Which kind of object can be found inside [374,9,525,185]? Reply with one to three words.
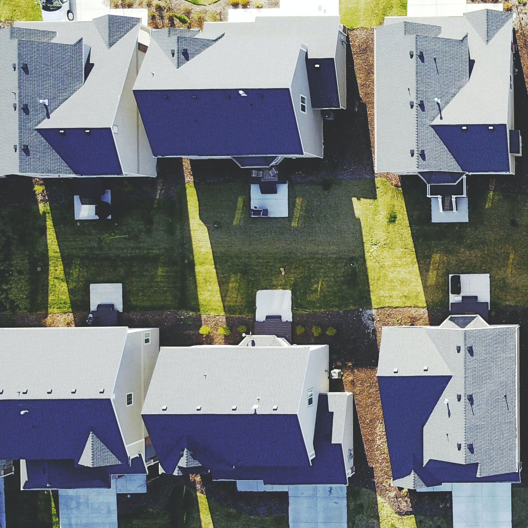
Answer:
house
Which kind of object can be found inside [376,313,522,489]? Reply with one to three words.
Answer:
house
